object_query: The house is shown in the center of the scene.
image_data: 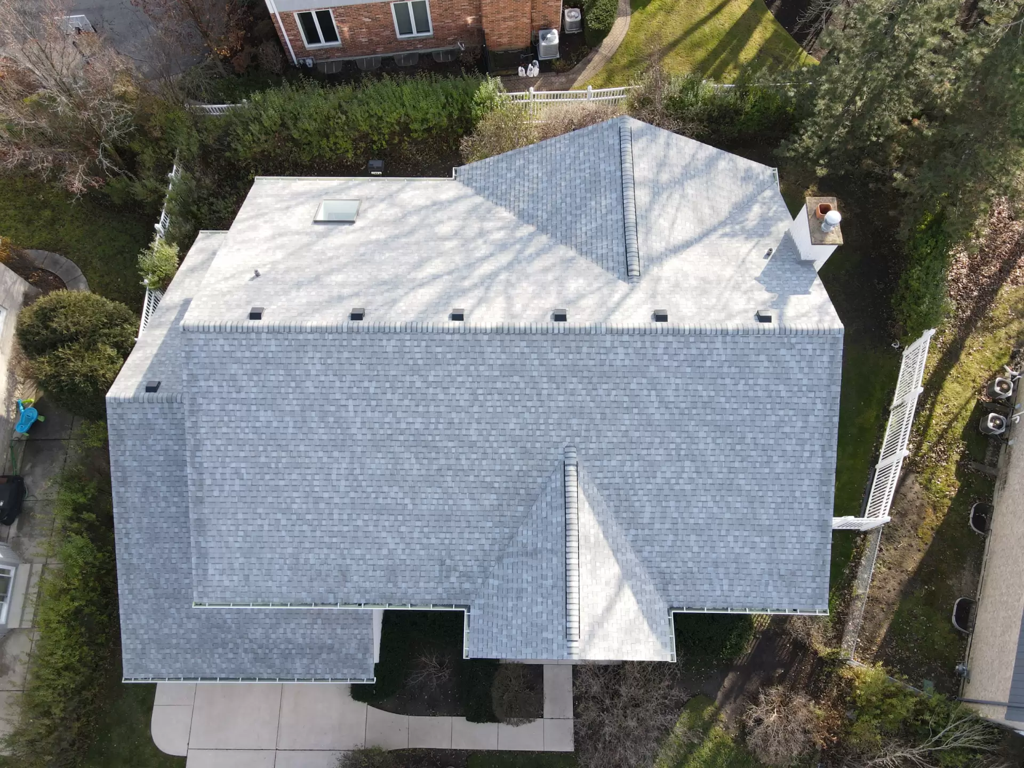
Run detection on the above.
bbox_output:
[105,117,846,685]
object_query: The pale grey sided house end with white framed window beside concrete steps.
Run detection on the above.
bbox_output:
[0,546,49,638]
